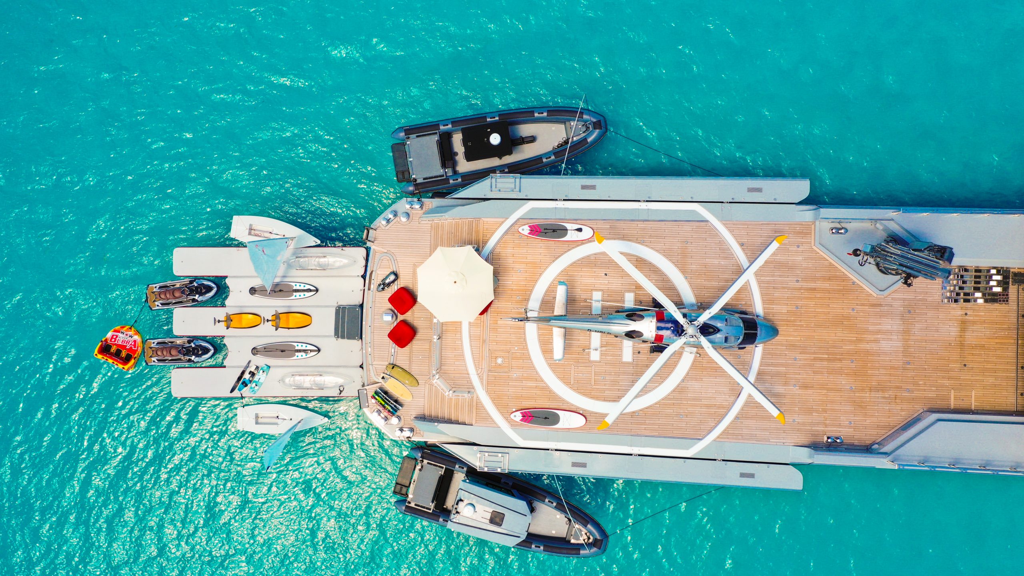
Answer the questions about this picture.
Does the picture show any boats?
Yes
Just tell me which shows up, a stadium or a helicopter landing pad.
helicopter landing pad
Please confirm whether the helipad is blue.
No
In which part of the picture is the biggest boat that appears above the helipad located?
top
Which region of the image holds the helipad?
center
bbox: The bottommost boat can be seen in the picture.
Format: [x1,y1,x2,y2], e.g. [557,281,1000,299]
[395,445,610,550]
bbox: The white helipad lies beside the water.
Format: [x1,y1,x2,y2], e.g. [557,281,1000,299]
[460,201,766,456]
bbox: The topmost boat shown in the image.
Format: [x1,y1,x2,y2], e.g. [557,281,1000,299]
[392,106,609,196]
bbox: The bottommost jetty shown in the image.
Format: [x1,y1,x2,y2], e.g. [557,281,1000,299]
[172,367,364,397]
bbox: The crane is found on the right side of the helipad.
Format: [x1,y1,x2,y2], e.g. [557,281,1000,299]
[845,236,959,287]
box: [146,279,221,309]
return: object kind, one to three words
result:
boat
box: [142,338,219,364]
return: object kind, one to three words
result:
boat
